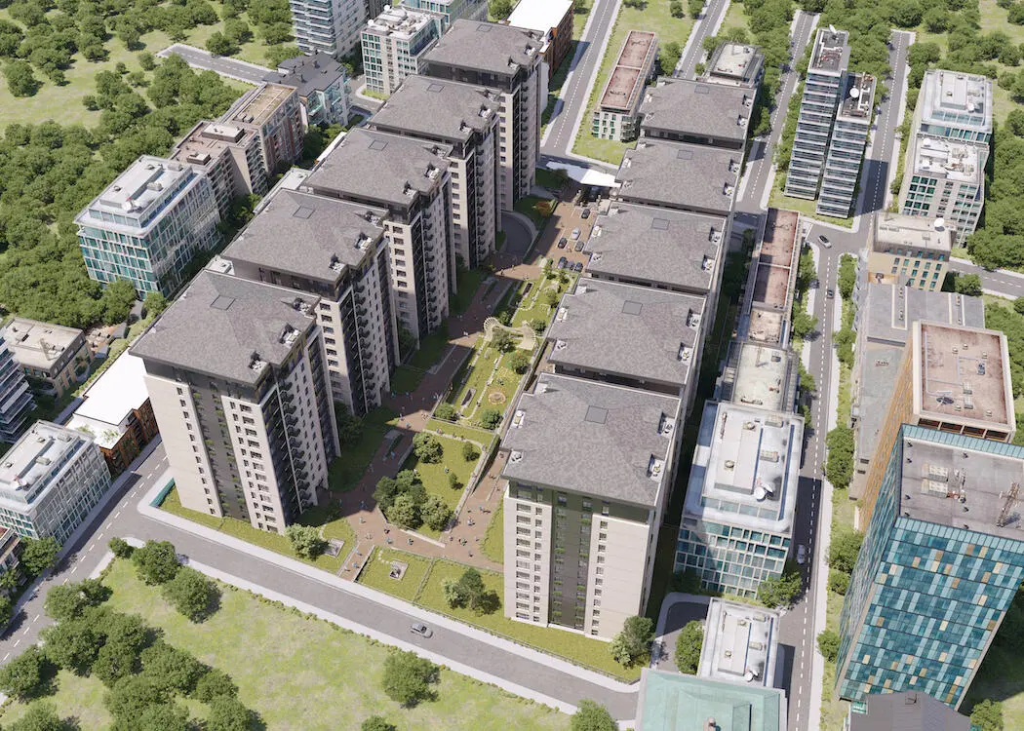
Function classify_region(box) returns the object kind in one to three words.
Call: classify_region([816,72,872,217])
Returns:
building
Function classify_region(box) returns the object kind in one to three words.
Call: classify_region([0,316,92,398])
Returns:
building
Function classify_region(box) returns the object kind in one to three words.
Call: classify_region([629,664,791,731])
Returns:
house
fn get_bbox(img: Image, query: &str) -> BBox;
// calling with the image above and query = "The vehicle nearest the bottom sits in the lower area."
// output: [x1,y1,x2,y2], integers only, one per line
[408,619,431,637]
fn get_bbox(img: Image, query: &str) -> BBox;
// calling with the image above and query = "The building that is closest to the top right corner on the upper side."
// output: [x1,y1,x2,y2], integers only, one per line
[902,71,994,156]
